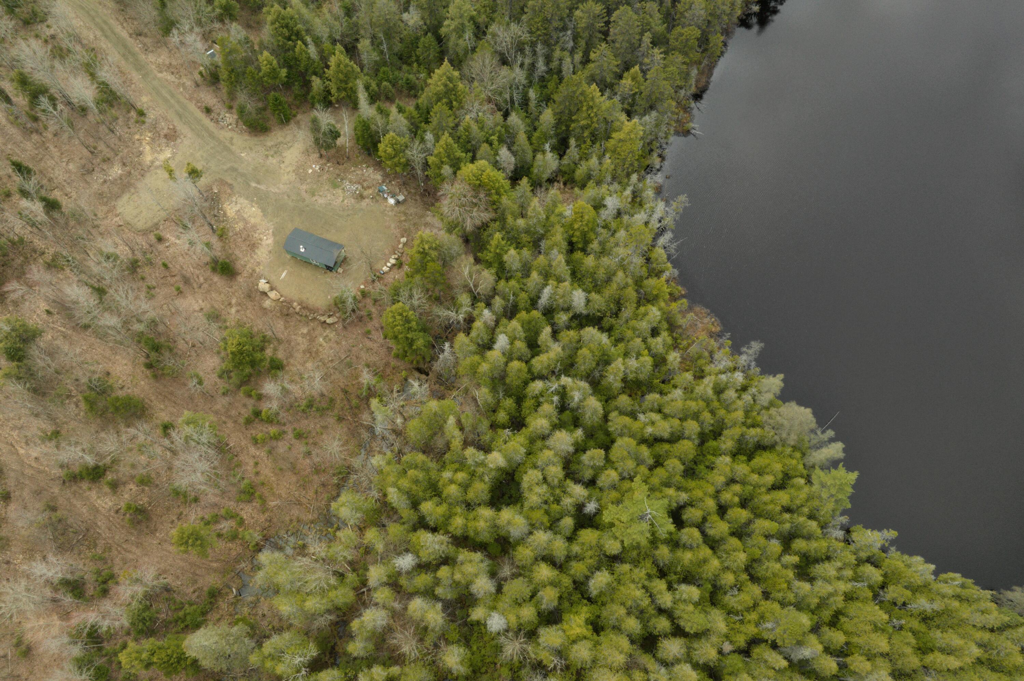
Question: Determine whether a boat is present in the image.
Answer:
No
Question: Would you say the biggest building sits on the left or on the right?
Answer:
left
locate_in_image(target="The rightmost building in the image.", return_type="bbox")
[283,228,346,272]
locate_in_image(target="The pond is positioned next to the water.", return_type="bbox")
[656,0,1024,623]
